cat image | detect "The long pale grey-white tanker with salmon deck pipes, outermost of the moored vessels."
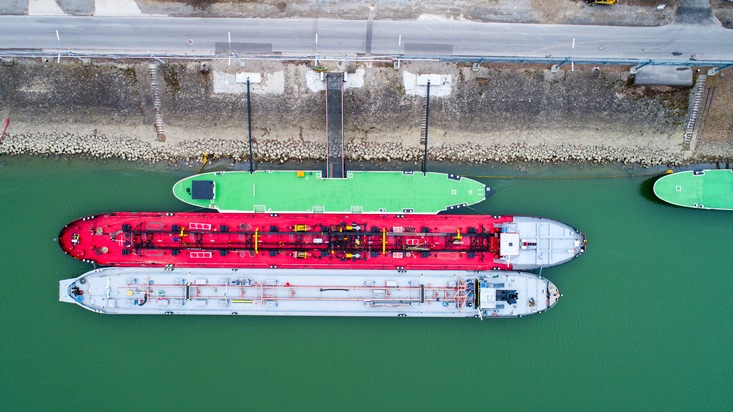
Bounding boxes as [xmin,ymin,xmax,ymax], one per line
[59,268,564,318]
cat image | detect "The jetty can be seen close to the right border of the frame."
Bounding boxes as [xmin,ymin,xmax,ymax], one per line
[649,170,733,210]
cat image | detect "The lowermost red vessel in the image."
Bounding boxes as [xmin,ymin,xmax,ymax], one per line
[55,212,586,270]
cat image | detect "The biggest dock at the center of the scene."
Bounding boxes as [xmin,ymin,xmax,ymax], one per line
[173,171,495,213]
